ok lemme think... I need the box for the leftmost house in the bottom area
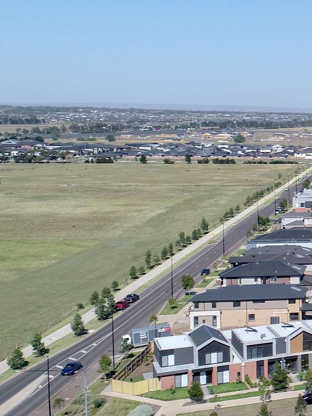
[154,319,238,390]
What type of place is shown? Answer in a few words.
residential area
